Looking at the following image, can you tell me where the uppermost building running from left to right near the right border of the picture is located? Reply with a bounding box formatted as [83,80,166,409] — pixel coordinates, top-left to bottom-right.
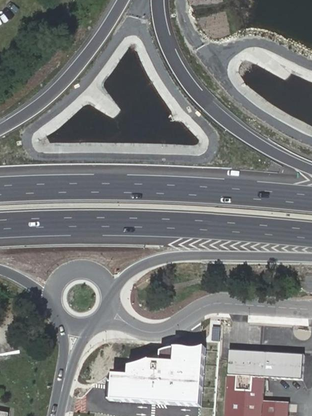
[226,350,304,380]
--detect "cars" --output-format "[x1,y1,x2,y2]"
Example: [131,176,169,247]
[0,12,8,23]
[58,325,64,336]
[50,404,57,416]
[280,380,289,390]
[3,8,13,20]
[220,198,231,203]
[130,194,142,198]
[28,222,40,228]
[7,2,18,14]
[292,381,300,390]
[56,370,63,381]
[258,192,270,198]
